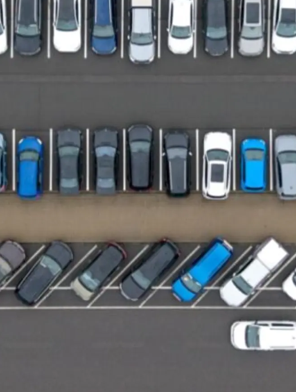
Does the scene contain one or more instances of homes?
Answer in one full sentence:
No, there appears to be no home in this shot.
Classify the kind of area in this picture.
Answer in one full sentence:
The area seen from above is a parking lot.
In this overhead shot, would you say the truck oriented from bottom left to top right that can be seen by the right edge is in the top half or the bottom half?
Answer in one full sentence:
You can find the truck oriented from bottom left to top right that can be seen by the right edge in the bottom half.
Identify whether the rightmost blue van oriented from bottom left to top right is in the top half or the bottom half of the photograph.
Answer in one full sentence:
Seen from above, the rightmost blue van oriented from bottom left to top right lies in the bottom half of the view.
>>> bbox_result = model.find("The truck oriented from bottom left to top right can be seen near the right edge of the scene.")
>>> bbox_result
[221,233,292,307]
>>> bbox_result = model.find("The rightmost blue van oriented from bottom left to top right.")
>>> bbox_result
[172,234,234,303]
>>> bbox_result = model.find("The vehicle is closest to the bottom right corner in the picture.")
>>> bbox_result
[230,320,296,353]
